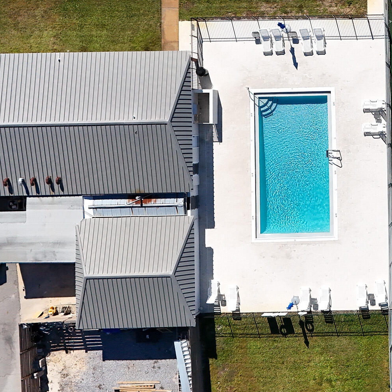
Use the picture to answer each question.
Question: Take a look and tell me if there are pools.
Yes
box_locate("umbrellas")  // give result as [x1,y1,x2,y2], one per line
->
[286,297,299,309]
[276,23,292,35]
